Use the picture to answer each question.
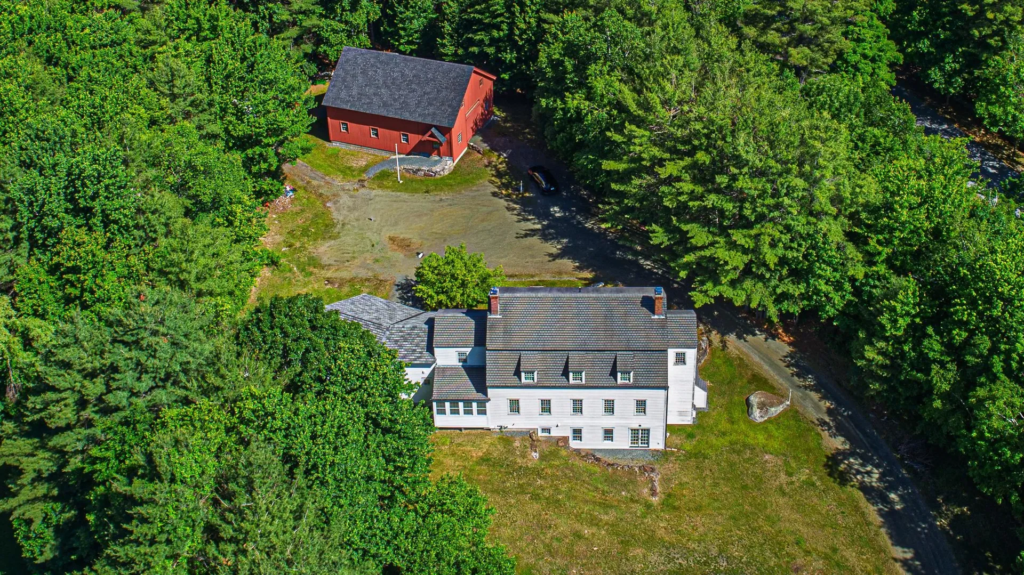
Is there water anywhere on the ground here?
No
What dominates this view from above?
trees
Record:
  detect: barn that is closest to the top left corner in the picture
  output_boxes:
[322,45,497,166]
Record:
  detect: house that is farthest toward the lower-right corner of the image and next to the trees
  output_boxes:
[316,287,709,450]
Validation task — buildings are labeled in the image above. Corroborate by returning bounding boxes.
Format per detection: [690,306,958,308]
[316,287,709,450]
[322,45,497,166]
